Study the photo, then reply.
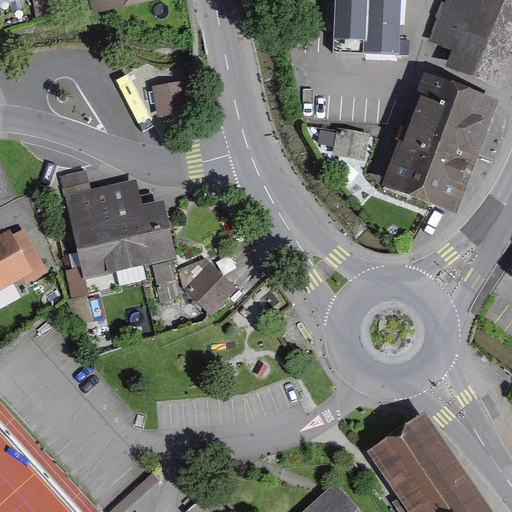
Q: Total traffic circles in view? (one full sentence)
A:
There is 1 traffic circle in the image.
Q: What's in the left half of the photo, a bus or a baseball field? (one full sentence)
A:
The one visible in the left half of the photo is a bus.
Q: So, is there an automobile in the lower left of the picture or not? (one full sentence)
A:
Yes, an automobile shows up in the lower left of the picture.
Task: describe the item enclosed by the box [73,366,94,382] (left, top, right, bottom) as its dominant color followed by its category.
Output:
blue car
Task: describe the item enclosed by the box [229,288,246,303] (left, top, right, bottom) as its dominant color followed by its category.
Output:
white camper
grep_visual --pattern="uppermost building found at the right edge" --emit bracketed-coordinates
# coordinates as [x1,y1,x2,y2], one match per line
[430,0,505,75]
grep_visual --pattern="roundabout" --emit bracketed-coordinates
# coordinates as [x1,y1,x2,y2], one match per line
[326,266,460,398]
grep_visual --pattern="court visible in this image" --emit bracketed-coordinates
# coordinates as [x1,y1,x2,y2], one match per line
[0,434,71,512]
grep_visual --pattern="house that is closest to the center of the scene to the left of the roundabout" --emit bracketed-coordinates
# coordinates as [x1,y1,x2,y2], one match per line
[178,256,236,316]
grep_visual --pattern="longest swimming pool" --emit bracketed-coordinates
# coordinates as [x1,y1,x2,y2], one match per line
[88,295,105,321]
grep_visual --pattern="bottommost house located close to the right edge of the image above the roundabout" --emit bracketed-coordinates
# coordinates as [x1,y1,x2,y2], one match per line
[384,72,498,212]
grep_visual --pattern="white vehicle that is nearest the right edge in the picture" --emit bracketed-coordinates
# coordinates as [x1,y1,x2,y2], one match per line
[423,208,444,237]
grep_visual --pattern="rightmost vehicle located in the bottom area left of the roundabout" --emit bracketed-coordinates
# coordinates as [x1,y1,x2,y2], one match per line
[284,380,299,402]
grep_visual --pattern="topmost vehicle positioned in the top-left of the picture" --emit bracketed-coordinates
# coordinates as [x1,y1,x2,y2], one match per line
[116,74,155,134]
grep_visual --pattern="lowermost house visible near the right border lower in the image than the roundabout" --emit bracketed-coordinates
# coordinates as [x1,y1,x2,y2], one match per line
[368,412,494,512]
